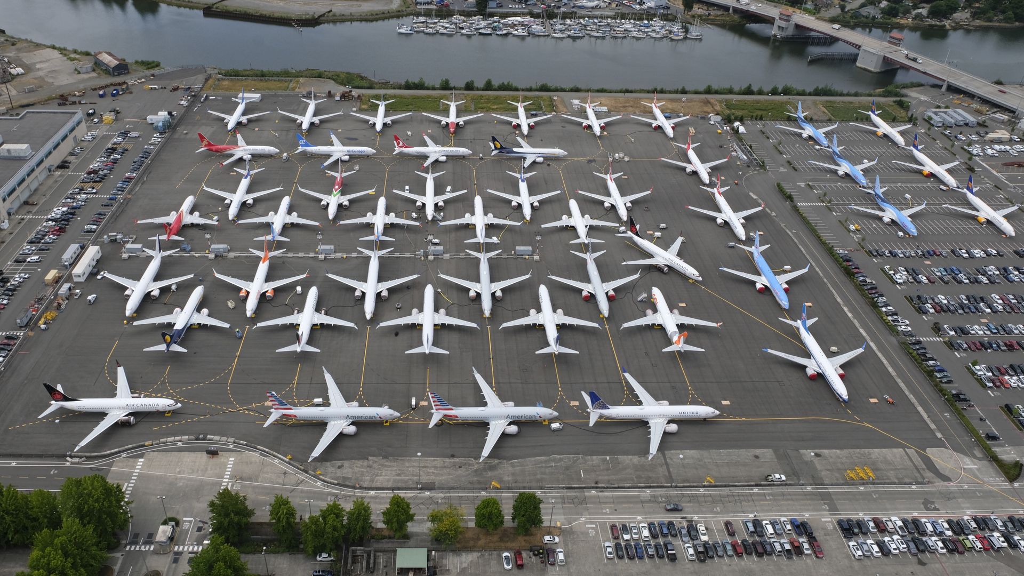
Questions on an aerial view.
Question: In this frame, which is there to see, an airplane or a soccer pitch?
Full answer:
The image shows an airplane.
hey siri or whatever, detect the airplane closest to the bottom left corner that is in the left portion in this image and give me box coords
[35,356,186,451]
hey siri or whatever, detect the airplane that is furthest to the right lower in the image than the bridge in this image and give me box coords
[943,173,1019,237]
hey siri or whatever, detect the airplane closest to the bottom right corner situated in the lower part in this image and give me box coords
[764,304,868,403]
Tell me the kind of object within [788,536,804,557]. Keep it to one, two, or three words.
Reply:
vehicle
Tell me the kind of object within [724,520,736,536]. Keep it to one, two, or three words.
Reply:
vehicle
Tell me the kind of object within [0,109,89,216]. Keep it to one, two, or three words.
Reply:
building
